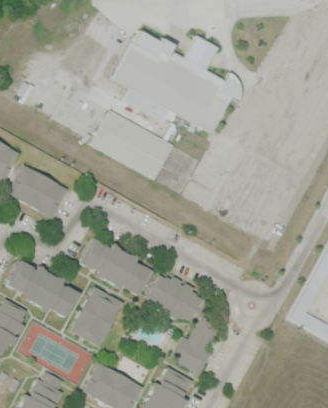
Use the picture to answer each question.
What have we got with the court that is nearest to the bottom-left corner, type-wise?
tennis court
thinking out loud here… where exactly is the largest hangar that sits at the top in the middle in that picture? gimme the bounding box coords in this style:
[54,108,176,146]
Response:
[112,30,244,132]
